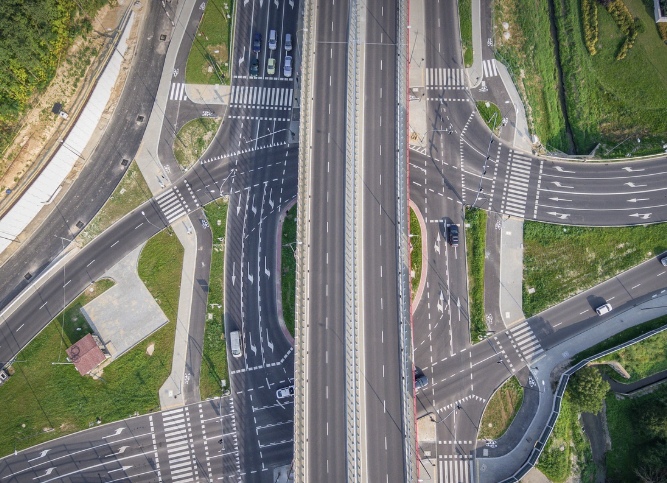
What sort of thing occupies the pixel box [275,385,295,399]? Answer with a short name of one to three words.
vehicle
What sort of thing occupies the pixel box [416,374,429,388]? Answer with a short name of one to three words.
vehicle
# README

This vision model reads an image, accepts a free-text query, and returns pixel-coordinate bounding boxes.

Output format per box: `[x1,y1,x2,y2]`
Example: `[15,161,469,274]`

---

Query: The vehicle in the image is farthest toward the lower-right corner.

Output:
[594,301,615,316]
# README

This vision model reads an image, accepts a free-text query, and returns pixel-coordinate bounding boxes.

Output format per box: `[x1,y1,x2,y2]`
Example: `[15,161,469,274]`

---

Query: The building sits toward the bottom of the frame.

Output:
[66,333,109,376]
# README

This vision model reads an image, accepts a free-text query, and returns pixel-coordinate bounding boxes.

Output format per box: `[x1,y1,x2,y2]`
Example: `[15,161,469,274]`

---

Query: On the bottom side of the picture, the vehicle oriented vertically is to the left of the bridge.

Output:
[228,331,242,358]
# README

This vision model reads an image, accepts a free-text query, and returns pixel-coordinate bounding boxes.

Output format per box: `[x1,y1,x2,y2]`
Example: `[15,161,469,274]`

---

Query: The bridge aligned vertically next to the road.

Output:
[293,0,420,483]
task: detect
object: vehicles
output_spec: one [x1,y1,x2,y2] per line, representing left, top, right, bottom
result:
[228,331,242,358]
[266,58,276,76]
[283,34,292,51]
[249,59,259,78]
[283,57,292,77]
[594,301,615,316]
[416,374,429,388]
[268,31,277,50]
[275,385,295,399]
[252,33,262,53]
[449,225,459,247]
